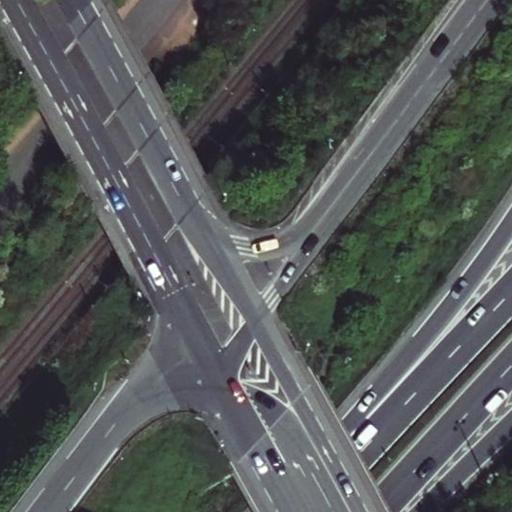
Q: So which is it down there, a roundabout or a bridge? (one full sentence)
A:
Visible in the photo is a bridge.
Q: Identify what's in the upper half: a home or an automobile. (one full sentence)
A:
You can see an automobile in the upper half.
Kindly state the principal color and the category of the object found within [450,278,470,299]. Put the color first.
gray car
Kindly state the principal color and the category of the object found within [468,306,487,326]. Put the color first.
white car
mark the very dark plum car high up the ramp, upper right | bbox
[430,35,449,56]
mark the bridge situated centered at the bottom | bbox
[201,308,388,512]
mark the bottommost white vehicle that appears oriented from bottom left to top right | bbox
[355,423,380,450]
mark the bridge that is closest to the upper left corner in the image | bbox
[0,0,222,292]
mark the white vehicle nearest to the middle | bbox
[252,238,280,254]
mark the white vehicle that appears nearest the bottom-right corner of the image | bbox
[486,390,508,412]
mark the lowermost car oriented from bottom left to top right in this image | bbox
[416,457,436,478]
